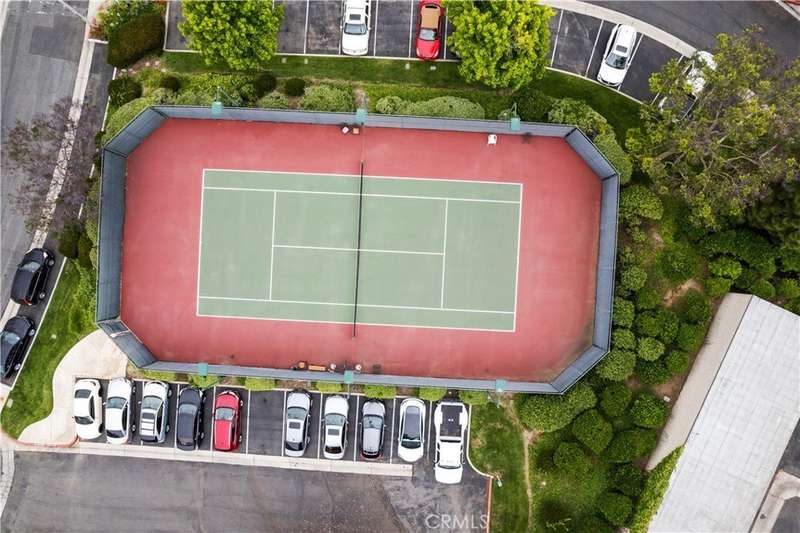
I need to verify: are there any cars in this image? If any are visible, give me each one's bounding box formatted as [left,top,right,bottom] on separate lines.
[284,391,313,459]
[212,390,243,453]
[173,387,206,453]
[0,314,35,382]
[416,0,443,59]
[102,377,136,445]
[340,0,370,56]
[598,20,644,89]
[398,398,426,463]
[137,380,171,445]
[6,245,58,310]
[70,379,105,439]
[361,399,388,461]
[322,394,350,461]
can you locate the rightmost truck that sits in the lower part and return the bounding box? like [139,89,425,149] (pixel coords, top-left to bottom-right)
[436,402,467,486]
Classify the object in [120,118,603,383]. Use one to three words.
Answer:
tennis court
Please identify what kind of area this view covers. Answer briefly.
sports ground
